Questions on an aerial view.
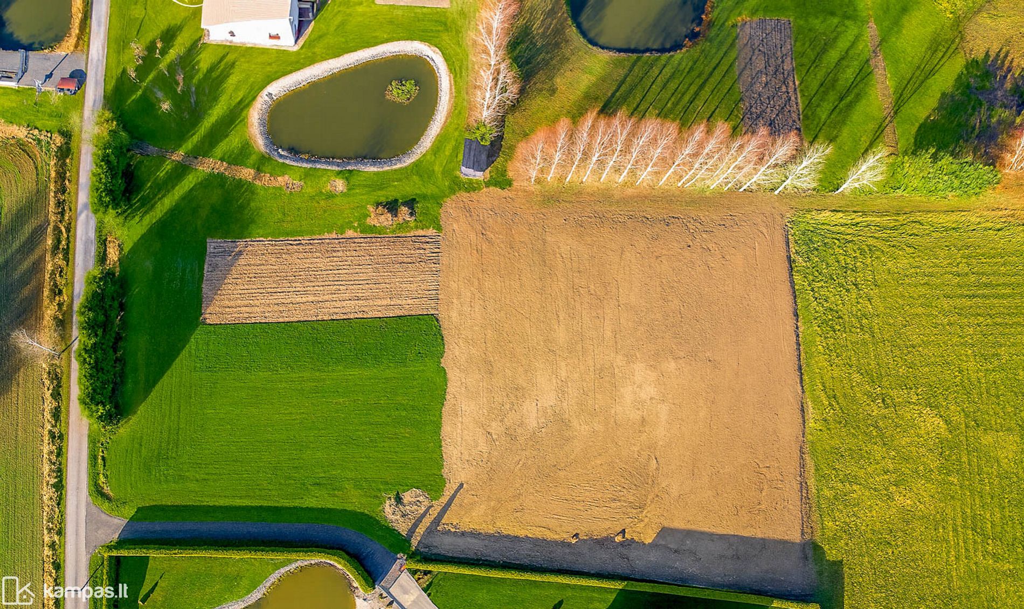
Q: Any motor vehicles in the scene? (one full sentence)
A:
No, there isn't any motor vehicle down there.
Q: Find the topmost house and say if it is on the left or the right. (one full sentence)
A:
The topmost house appears in the left half of the scene.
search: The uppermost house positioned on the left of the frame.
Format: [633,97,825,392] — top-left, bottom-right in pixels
[196,0,313,47]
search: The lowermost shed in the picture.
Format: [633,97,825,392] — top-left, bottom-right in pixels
[462,137,488,177]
